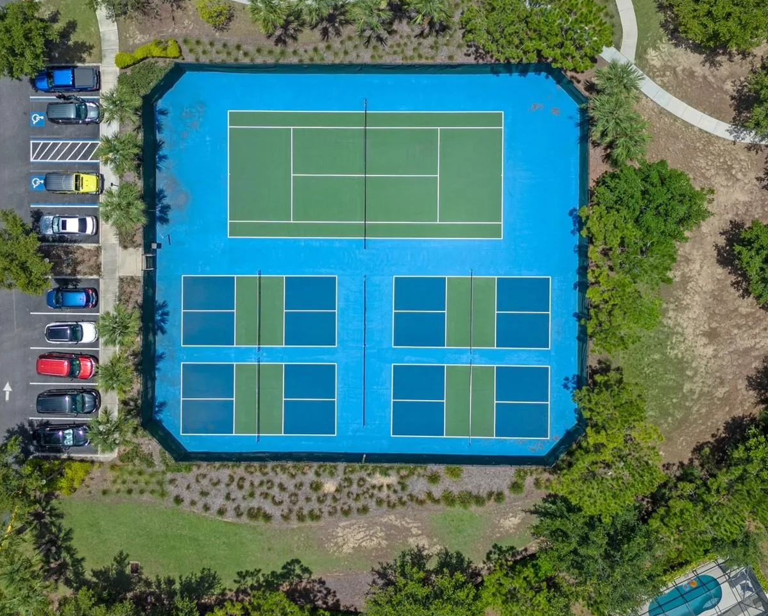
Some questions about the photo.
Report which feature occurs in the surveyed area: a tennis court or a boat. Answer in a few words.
tennis court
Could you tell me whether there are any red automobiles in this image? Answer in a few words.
Yes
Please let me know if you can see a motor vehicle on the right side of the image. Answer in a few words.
No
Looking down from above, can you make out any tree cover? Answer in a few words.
Yes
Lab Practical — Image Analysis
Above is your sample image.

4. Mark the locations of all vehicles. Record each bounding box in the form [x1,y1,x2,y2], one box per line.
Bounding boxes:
[42,319,99,347]
[32,423,91,451]
[47,284,100,312]
[41,212,98,238]
[38,169,102,195]
[35,64,101,93]
[36,353,100,381]
[44,94,103,126]
[35,389,101,416]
